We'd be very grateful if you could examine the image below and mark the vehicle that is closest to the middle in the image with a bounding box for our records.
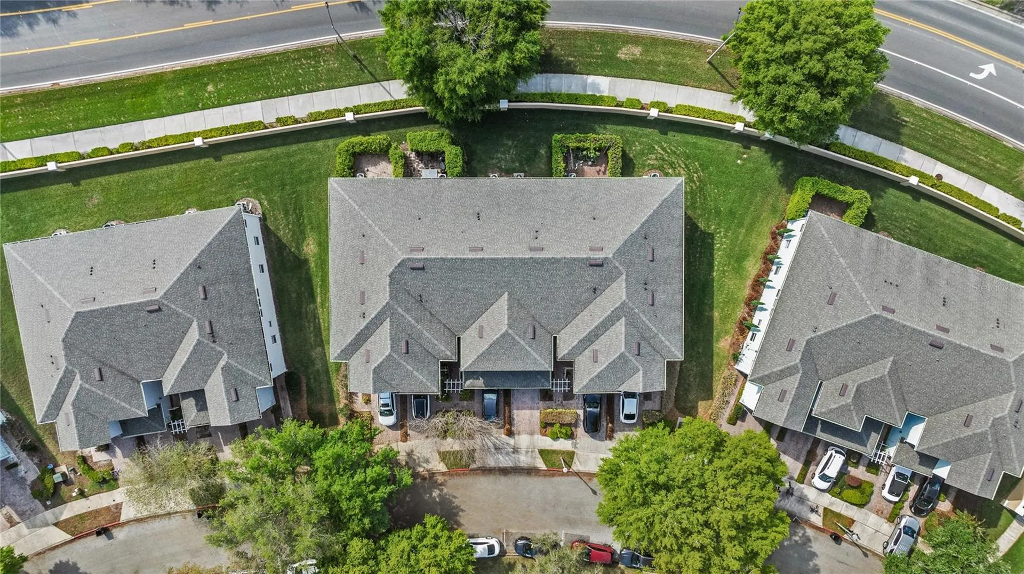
[478,389,502,421]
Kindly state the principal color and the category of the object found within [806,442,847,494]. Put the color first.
white car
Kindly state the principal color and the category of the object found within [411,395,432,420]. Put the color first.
black car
